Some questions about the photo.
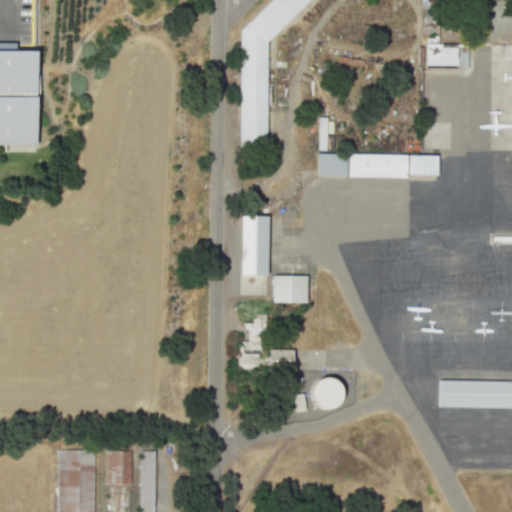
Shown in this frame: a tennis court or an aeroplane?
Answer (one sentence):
Looking from above, you can make out an aeroplane.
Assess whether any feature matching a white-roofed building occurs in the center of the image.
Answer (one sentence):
Yes, there is a white-roofed building in the center of the image.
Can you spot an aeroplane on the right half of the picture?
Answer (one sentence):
Yes, an aeroplane shows up on the right half of the picture.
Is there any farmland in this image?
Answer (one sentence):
Yes, farmland shows up in the scene.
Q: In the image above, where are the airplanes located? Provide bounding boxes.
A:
[422,320,444,336]
[480,107,512,130]
[408,304,431,321]
[492,306,512,324]
[474,320,494,336]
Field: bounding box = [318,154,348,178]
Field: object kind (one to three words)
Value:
hangar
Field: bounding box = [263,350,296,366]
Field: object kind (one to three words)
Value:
house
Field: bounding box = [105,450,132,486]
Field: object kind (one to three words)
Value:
barn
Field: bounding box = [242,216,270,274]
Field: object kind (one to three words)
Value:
building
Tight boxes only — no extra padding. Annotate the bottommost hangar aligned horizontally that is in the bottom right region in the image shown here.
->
[438,380,512,408]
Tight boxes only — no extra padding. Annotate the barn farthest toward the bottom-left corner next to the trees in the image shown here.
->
[58,450,96,512]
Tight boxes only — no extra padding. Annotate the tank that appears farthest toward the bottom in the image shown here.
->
[312,378,346,411]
